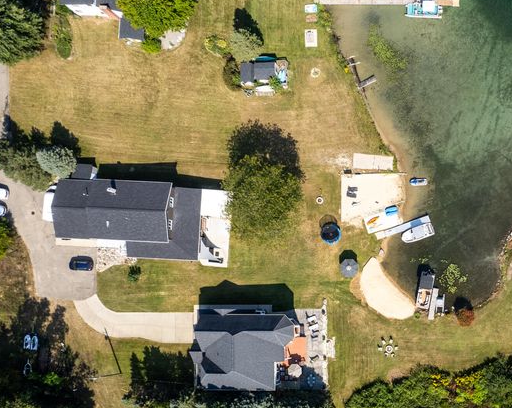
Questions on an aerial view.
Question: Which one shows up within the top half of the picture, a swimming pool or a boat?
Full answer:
It is a boat that can be seen within the top half of the picture.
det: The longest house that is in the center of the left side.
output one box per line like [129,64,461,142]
[52,164,205,260]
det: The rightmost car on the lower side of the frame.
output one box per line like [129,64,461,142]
[69,256,96,270]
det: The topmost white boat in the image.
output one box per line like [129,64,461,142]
[406,0,445,20]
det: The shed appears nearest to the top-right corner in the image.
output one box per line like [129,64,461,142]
[240,60,288,97]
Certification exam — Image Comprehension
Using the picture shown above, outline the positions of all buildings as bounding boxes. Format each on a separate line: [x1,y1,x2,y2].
[189,305,302,391]
[52,164,205,260]
[58,0,149,43]
[240,60,288,97]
